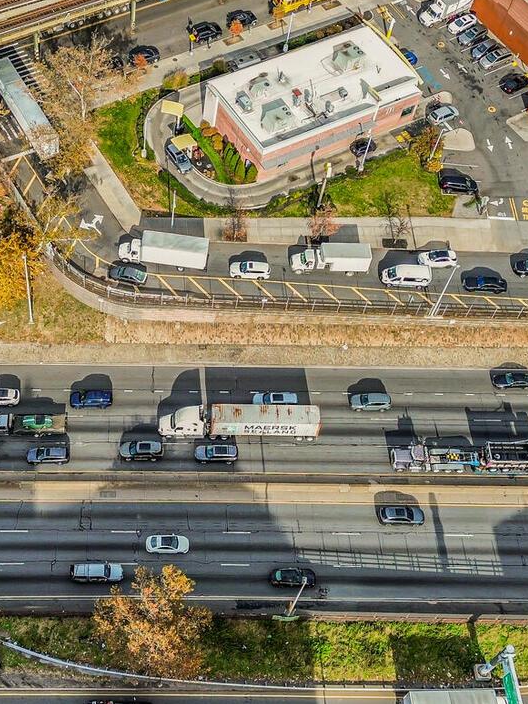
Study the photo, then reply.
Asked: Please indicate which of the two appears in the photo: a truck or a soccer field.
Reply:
truck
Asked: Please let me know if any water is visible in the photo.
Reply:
No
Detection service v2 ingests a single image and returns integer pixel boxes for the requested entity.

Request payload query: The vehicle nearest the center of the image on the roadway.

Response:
[251,388,296,405]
